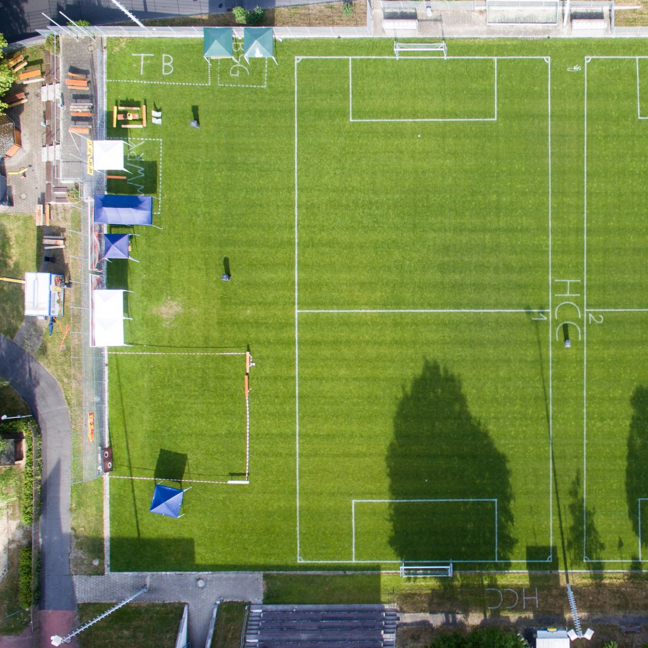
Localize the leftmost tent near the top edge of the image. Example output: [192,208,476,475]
[204,27,242,65]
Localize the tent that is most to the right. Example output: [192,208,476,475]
[244,27,280,65]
